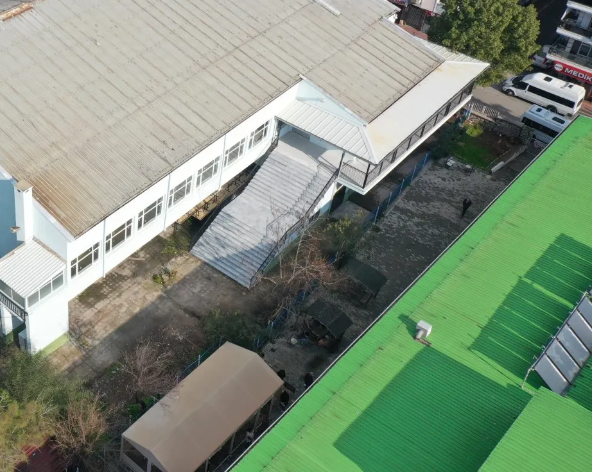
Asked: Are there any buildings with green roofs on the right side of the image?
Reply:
Yes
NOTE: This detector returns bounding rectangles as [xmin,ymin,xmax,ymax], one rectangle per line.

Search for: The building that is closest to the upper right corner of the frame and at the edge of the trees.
[544,0,592,99]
